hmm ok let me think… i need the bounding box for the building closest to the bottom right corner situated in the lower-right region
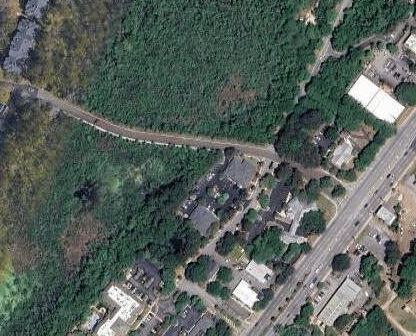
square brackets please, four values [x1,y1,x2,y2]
[318,277,361,326]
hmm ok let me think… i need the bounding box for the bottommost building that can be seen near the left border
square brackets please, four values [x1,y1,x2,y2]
[4,18,39,74]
